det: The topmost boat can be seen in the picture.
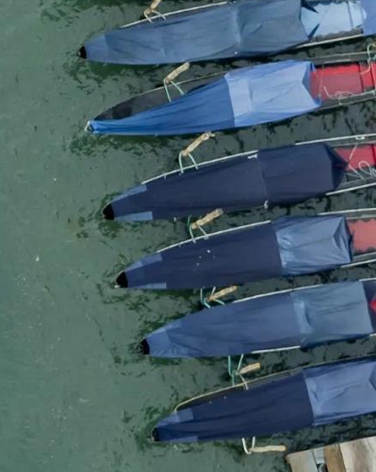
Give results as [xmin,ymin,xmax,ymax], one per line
[79,0,376,68]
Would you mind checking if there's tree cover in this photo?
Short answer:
No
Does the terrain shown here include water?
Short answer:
Yes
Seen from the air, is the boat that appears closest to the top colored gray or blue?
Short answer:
blue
